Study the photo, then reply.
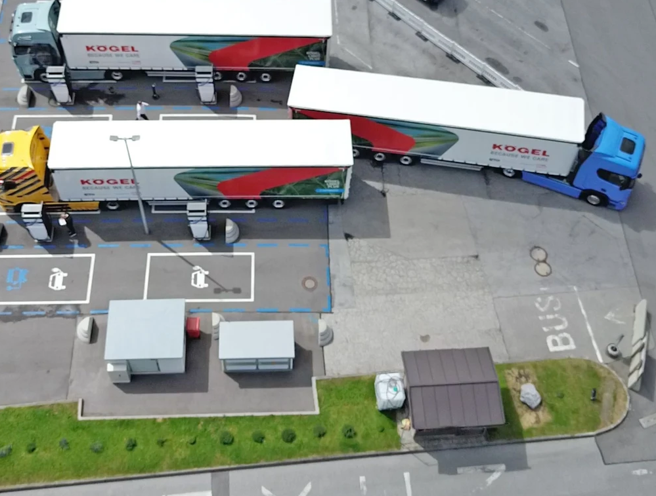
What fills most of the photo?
paved ground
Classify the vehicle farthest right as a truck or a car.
truck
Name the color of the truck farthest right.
blue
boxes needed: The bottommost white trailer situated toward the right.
[287,66,583,178]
